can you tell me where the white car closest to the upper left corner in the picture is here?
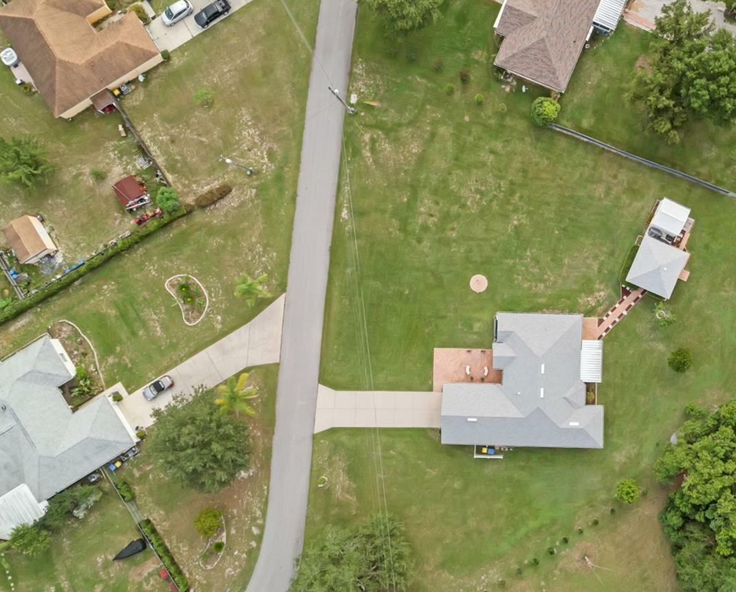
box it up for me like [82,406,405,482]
[160,0,192,23]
